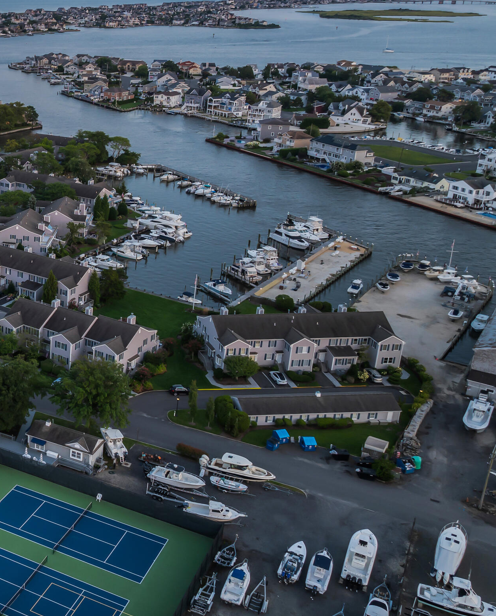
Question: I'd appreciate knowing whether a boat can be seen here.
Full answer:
Yes, the picture does show a boat.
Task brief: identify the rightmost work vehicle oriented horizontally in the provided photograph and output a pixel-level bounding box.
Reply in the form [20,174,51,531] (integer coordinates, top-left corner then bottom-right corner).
[446,282,483,301]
